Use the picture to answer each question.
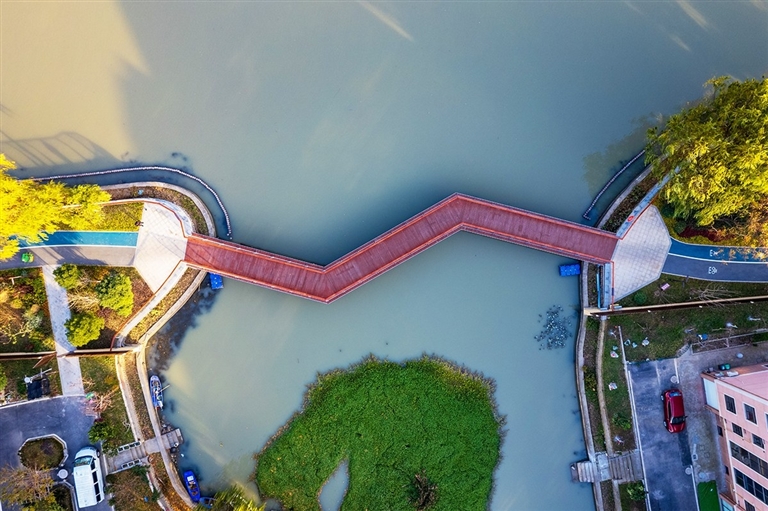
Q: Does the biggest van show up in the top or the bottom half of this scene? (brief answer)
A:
bottom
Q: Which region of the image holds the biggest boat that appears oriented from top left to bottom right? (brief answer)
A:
bottom left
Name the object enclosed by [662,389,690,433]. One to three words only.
car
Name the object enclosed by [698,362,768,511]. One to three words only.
building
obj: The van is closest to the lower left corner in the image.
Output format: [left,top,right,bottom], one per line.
[72,446,106,509]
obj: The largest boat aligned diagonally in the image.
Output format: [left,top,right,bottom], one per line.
[184,471,203,502]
